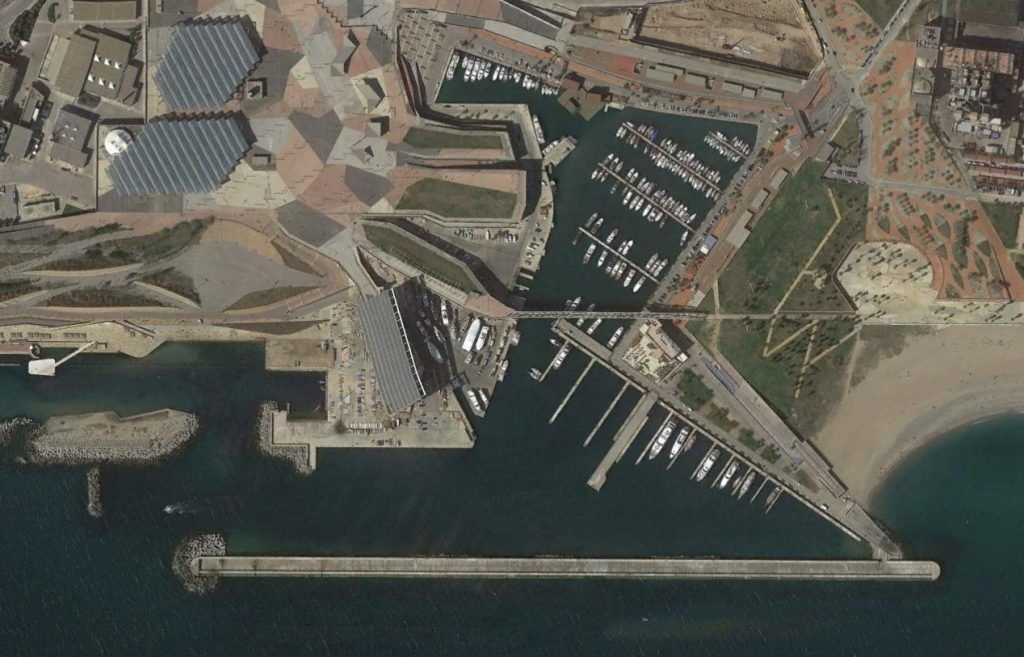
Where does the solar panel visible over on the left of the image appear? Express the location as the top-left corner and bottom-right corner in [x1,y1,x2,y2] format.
[359,289,420,413]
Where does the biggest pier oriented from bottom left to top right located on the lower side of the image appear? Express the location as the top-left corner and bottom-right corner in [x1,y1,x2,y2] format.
[587,395,658,491]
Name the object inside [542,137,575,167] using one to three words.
pier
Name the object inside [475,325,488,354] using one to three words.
boat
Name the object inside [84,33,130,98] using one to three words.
building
